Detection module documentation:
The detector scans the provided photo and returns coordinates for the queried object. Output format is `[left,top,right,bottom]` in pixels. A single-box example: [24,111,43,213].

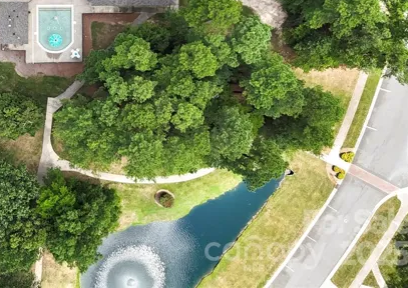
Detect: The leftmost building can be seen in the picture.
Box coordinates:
[1,2,28,43]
